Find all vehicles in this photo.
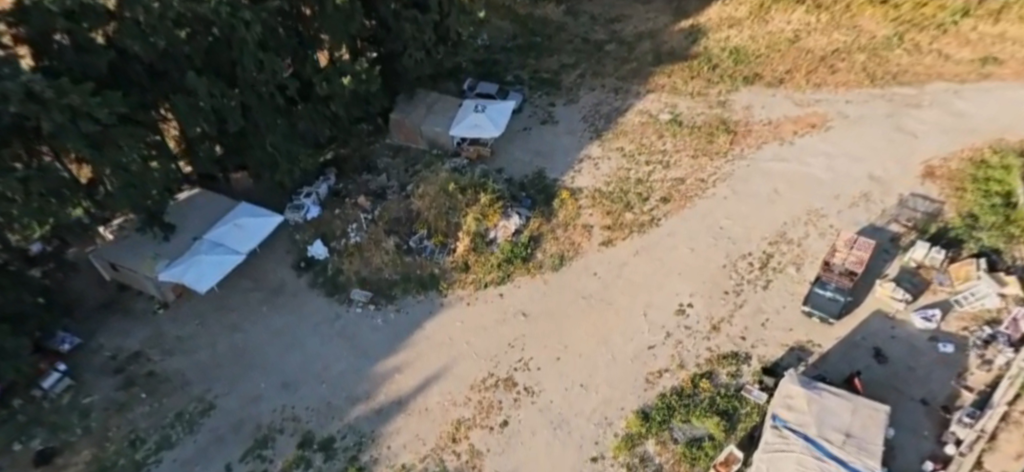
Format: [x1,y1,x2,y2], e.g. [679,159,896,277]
[458,79,530,116]
[800,227,871,320]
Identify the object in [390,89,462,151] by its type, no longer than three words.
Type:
shed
